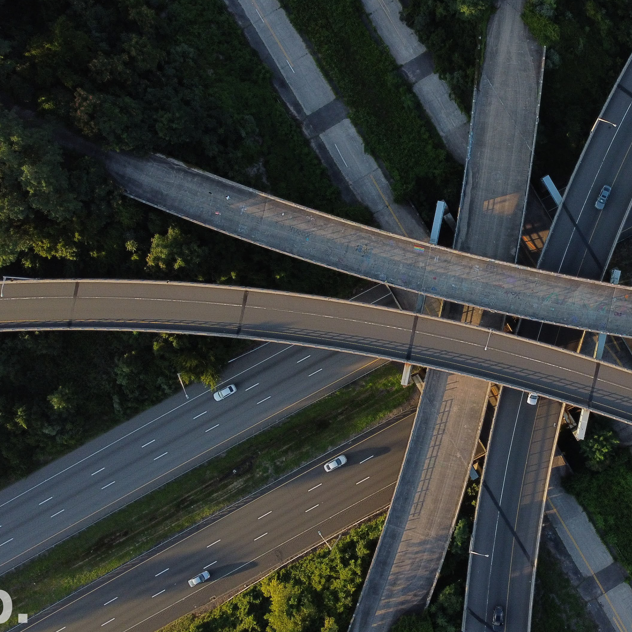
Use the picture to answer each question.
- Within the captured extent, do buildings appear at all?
No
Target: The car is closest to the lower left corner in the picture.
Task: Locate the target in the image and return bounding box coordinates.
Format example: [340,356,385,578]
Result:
[188,570,210,586]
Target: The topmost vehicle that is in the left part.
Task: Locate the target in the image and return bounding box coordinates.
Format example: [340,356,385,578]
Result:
[214,384,237,401]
